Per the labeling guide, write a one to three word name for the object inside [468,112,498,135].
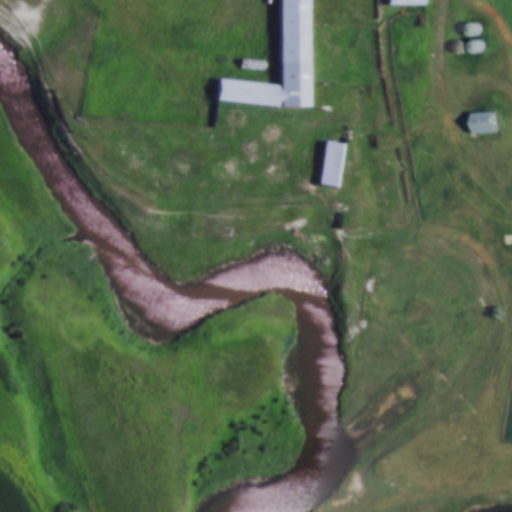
house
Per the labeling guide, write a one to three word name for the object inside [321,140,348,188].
shed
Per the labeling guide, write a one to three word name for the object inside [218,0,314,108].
barn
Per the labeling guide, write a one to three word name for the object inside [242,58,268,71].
shed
